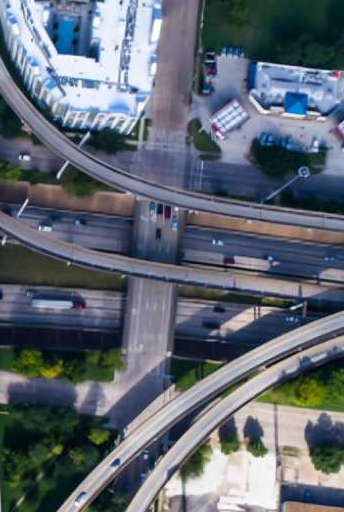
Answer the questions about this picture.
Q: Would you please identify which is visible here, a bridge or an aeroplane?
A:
bridge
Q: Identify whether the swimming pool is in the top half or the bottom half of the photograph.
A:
top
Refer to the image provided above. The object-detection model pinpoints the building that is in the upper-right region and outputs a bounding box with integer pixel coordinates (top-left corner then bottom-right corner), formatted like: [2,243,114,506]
[245,62,343,123]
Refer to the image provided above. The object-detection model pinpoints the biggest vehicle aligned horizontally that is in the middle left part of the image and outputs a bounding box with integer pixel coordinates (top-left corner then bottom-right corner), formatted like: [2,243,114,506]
[29,298,86,310]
